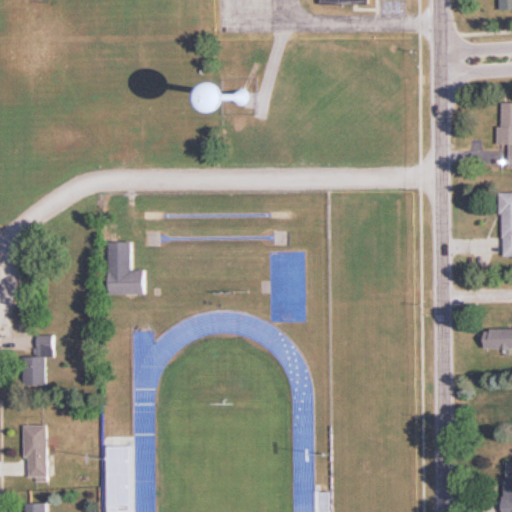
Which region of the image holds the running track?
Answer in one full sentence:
The running track sits in the bottom section of the image.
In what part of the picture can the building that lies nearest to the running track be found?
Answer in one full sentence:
The building that lies nearest to the running track sits in the left section of the image.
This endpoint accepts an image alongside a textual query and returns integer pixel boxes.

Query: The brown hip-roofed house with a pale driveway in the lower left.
[22,424,49,484]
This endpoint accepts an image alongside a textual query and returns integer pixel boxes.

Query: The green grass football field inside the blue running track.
[156,332,294,512]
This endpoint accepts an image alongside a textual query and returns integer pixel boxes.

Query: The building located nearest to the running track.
[107,242,146,296]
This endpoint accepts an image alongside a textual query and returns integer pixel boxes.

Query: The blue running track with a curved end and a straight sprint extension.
[132,310,316,512]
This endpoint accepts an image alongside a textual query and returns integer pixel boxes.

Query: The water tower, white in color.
[190,80,250,112]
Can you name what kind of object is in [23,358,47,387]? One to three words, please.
house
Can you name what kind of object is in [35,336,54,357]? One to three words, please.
building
